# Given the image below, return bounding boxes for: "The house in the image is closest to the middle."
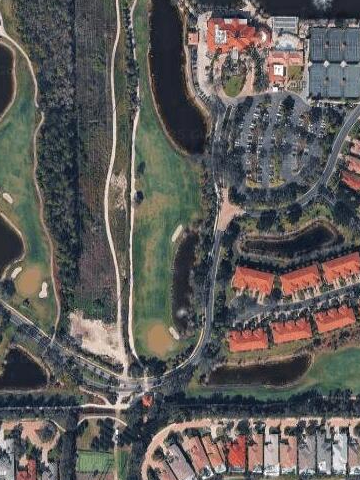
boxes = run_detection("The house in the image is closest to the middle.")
[232,267,274,297]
